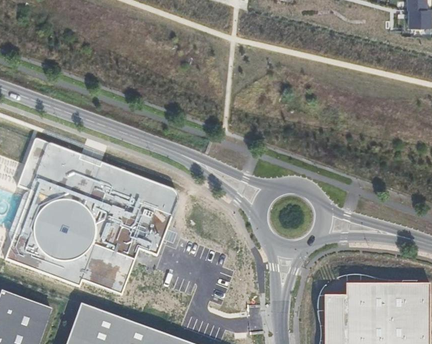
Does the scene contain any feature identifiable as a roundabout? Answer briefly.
Yes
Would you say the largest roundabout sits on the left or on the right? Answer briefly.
right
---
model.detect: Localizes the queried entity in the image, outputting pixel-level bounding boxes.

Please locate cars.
[185,242,192,252]
[8,92,20,100]
[207,250,214,262]
[384,20,390,30]
[213,290,224,297]
[306,235,314,246]
[190,243,198,254]
[218,254,224,265]
[217,278,228,286]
